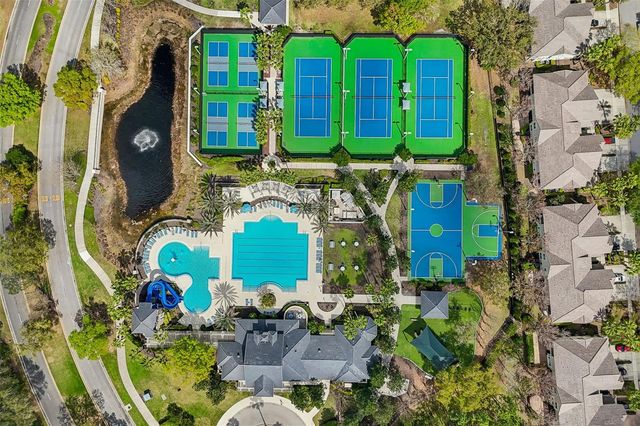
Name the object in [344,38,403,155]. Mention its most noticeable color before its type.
green tennis court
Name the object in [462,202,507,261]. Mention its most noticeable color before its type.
green basketball court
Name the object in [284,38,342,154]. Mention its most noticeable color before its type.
green tennis court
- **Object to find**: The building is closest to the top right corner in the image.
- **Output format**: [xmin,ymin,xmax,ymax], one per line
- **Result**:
[518,0,596,63]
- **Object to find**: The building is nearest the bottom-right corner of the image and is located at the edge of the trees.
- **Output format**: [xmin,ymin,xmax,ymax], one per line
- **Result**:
[547,334,629,426]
